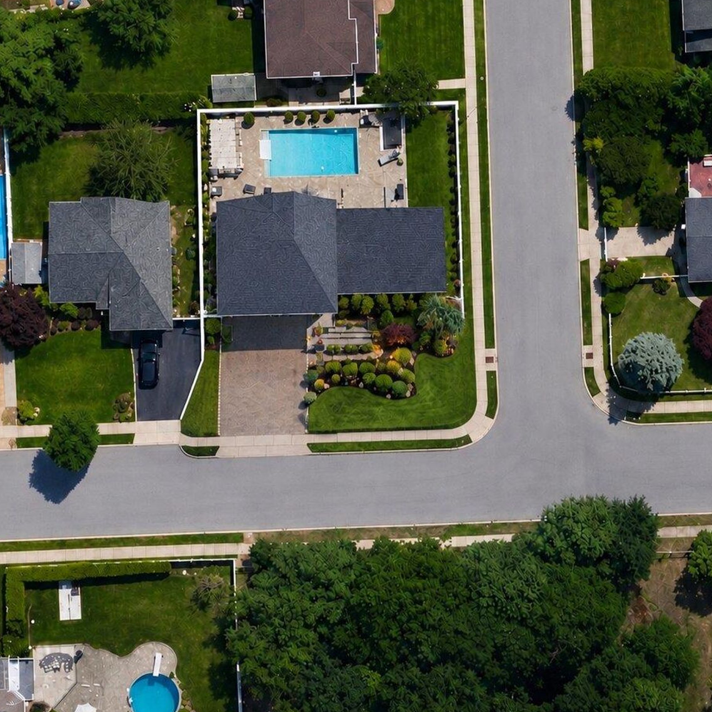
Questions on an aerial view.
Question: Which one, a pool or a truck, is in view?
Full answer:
There is a pool in the scene.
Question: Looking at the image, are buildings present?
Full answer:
Yes, a building appears in the view.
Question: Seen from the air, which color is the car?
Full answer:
The car looks black in the image.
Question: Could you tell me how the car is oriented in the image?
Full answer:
The car runs up and down in the image.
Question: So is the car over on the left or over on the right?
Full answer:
The car sits on the left side.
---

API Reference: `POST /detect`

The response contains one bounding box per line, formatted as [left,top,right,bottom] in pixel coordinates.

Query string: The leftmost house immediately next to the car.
[48,196,173,331]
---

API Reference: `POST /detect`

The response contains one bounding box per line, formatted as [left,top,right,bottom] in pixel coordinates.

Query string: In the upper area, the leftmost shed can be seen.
[11,242,42,285]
